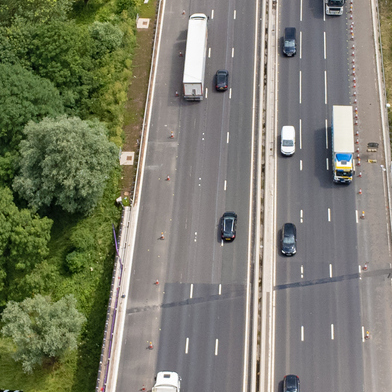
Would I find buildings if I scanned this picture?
No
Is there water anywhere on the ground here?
No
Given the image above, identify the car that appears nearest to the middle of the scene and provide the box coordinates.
[220,214,238,242]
